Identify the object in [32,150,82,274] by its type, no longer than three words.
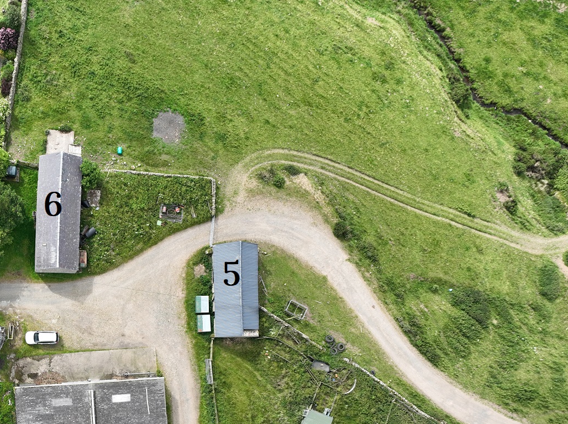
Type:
barn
